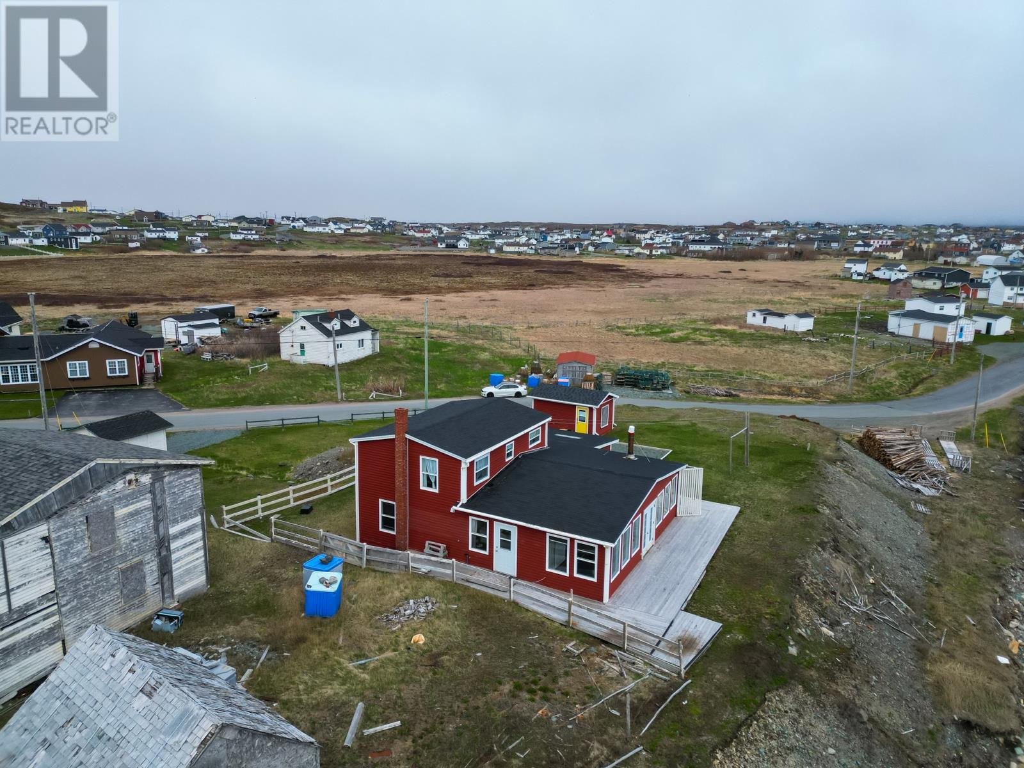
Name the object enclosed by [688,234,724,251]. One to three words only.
building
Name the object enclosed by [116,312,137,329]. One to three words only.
work vehicle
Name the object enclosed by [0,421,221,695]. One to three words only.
barn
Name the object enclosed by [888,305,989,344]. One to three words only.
shed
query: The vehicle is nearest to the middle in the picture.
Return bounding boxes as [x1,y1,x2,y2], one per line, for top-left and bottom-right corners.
[482,379,529,396]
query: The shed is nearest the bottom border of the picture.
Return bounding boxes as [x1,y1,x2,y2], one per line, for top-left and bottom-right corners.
[0,617,324,768]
